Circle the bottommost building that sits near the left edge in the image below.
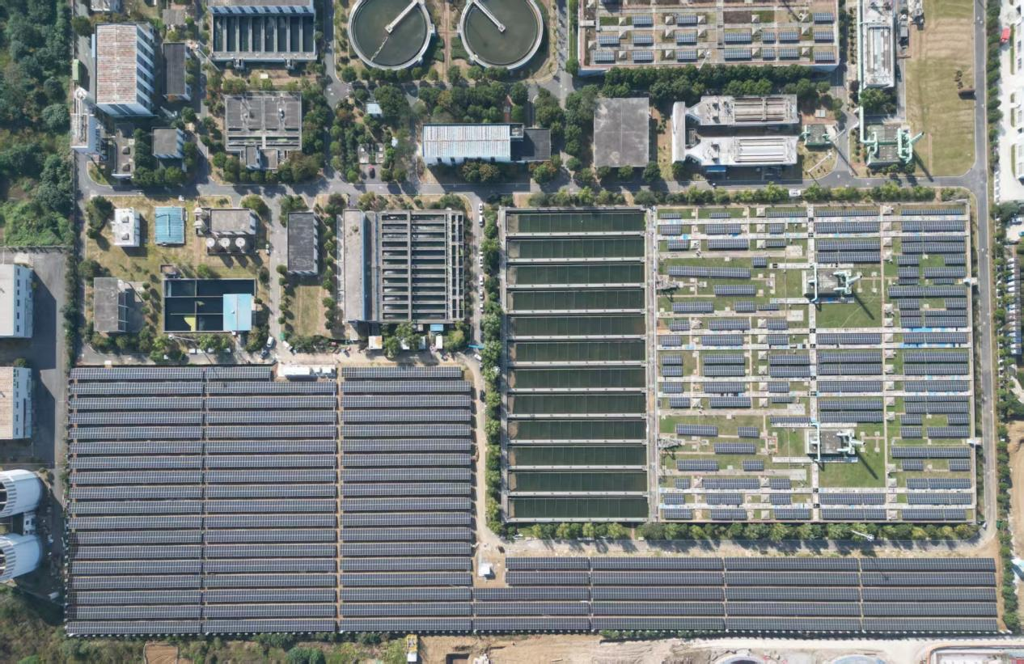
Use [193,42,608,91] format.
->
[22,512,40,534]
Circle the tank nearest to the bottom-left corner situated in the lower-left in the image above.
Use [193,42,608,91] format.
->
[0,534,42,588]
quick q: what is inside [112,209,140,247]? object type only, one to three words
building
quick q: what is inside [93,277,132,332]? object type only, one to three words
shed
